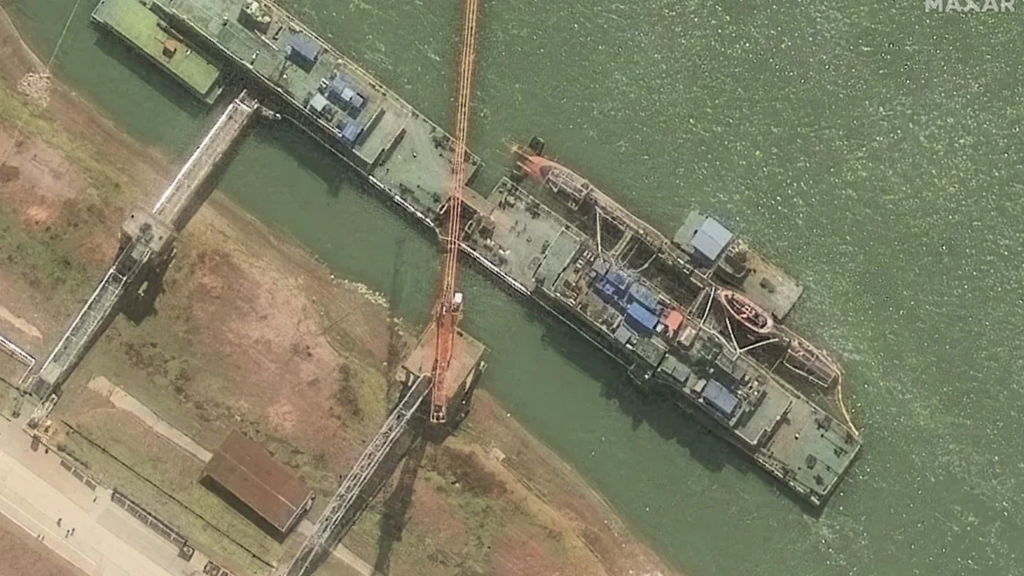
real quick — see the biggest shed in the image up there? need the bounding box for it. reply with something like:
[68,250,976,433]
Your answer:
[204,430,312,530]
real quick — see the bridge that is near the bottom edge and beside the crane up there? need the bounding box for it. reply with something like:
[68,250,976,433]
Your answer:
[285,375,436,576]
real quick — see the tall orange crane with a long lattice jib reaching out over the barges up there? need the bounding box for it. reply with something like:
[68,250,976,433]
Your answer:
[430,0,477,422]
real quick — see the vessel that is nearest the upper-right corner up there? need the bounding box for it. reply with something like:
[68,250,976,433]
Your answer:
[674,211,804,320]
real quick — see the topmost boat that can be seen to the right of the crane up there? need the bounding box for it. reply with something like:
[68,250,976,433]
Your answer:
[530,138,544,155]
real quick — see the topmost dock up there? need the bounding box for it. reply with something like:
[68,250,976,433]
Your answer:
[92,0,222,103]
